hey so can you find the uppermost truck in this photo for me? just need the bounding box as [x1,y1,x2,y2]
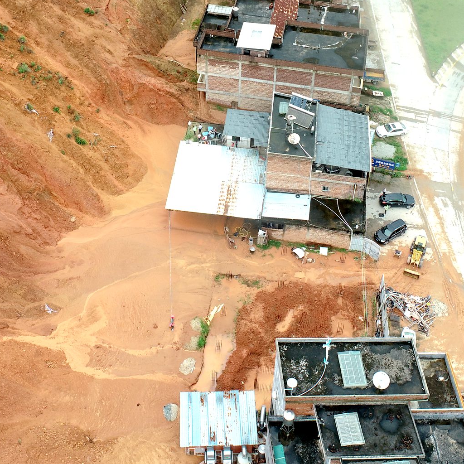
[362,25,394,50]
